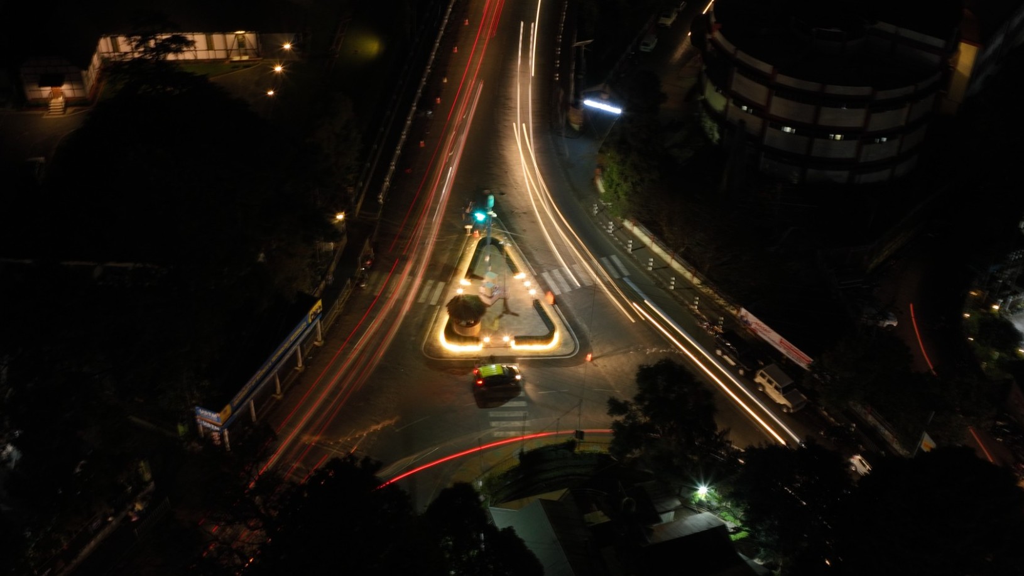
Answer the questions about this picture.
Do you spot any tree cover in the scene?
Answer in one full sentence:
Yes, there's tree cover in this view.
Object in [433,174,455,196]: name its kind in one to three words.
car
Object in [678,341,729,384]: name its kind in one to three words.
car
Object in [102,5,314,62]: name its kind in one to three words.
house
